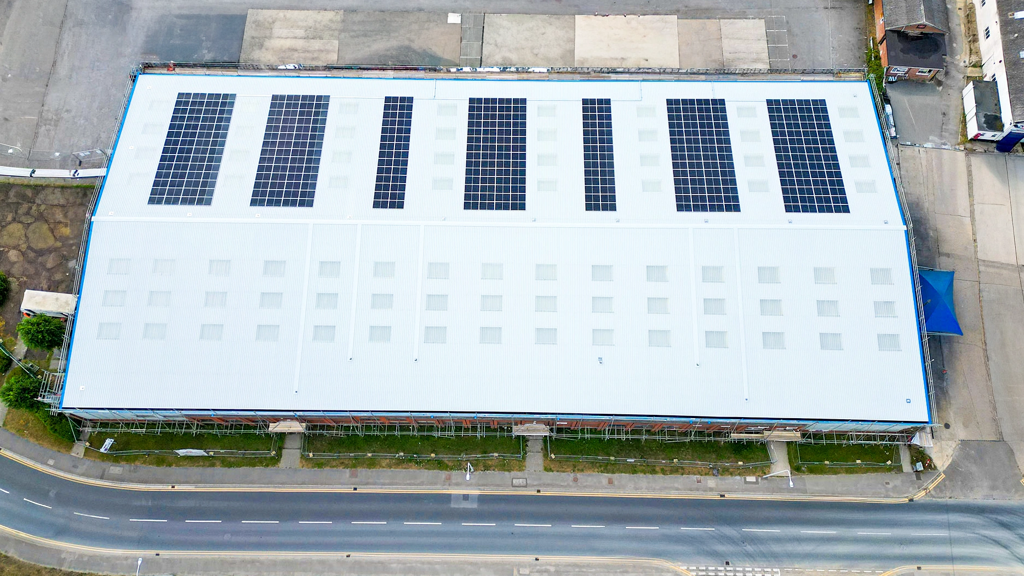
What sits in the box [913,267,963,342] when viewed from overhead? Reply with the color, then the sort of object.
blue gazebo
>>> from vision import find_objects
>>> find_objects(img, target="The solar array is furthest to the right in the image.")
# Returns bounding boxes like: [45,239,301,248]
[767,100,851,214]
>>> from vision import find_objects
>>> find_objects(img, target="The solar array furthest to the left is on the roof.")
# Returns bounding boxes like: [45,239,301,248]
[147,94,236,206]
